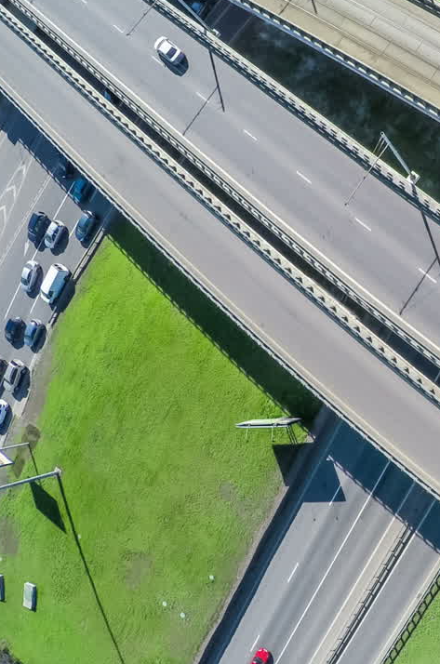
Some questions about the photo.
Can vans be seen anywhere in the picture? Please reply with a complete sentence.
Yes, a van is visible in the scene.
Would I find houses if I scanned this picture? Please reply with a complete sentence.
No, I can't see a single house in this photo.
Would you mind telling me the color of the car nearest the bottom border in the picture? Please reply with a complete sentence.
The color of the car nearest the bottom border is red.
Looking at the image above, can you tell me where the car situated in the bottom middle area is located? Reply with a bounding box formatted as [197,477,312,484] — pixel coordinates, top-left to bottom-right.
[250,644,271,664]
